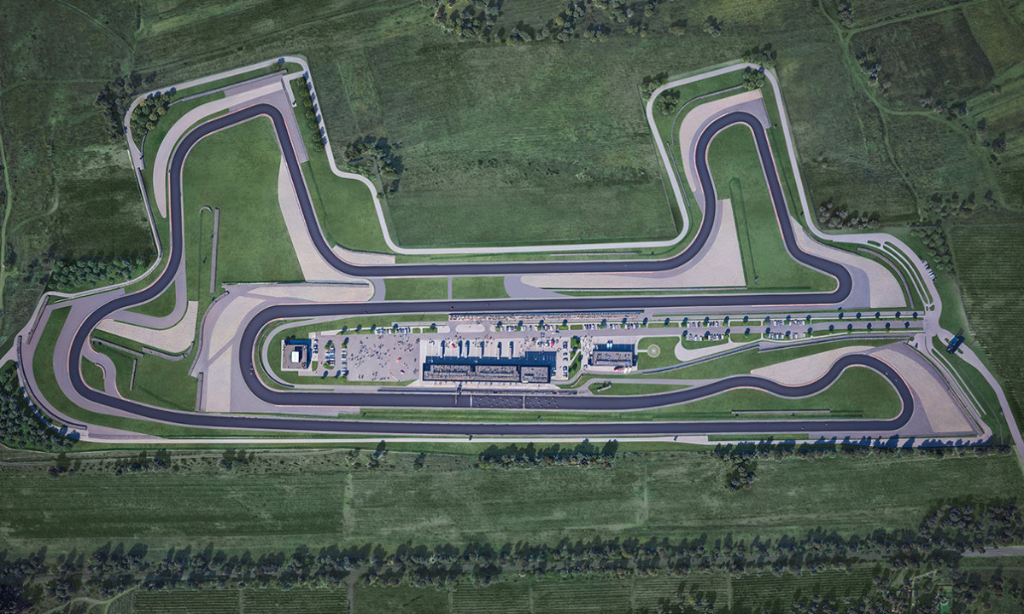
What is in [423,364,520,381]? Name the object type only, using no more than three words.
building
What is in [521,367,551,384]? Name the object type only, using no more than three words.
building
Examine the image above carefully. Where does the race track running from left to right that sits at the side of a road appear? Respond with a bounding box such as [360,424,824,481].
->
[68,103,914,435]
